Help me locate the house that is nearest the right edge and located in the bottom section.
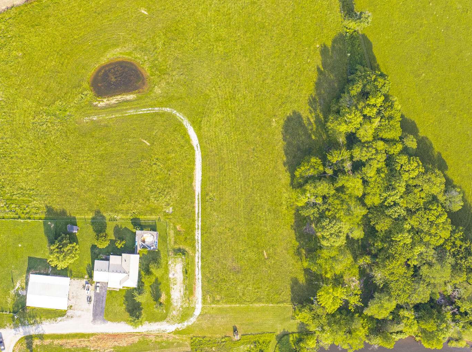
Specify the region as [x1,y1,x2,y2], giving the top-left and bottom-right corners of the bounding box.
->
[93,254,141,292]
